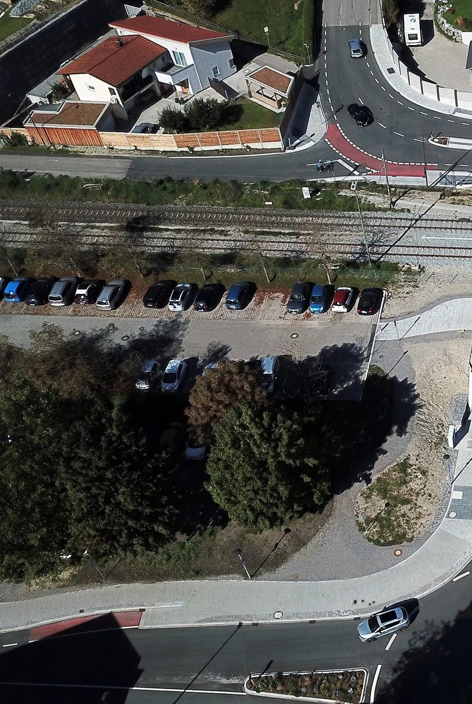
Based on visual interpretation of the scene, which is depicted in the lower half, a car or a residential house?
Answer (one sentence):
Visible in the lower half is a car.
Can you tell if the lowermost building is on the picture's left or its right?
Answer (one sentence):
You can find the lowermost building on the left side of the picture.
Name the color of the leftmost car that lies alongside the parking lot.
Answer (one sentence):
From above, the leftmost car that lies alongside the parking lot appears blue.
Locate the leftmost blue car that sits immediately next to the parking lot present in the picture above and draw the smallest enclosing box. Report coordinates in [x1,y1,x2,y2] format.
[0,275,29,301]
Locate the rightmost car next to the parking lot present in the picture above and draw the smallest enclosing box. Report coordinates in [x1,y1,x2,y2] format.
[356,284,380,314]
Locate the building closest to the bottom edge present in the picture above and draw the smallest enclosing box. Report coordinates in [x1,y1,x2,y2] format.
[22,98,118,150]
